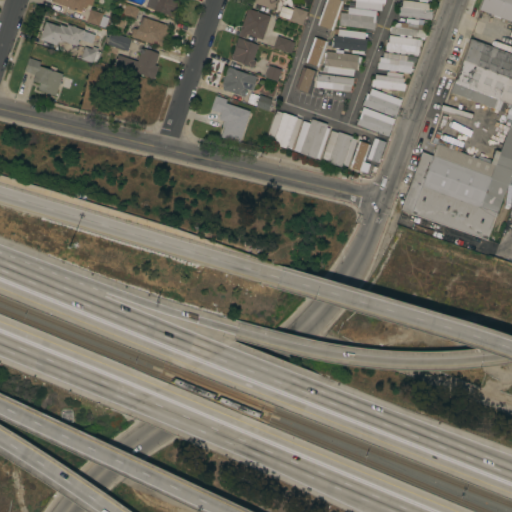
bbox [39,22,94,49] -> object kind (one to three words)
house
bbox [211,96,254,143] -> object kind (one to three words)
house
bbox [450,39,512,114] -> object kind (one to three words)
building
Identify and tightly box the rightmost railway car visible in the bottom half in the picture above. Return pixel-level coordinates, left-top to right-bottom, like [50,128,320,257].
[218,397,264,419]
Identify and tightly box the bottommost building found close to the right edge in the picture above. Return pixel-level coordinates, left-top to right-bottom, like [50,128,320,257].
[403,128,512,241]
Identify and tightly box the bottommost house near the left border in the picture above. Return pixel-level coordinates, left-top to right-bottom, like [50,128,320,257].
[24,58,64,97]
